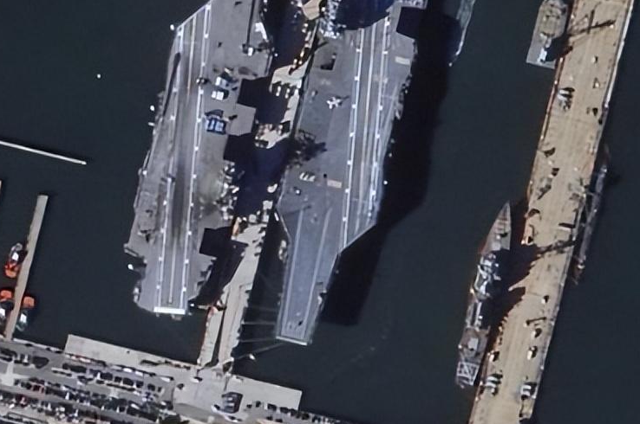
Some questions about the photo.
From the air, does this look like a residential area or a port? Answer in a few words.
port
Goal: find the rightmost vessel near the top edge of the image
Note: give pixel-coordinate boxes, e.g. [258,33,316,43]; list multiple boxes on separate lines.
[528,0,569,68]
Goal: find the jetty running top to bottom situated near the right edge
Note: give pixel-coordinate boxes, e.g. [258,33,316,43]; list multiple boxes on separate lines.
[470,0,639,424]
